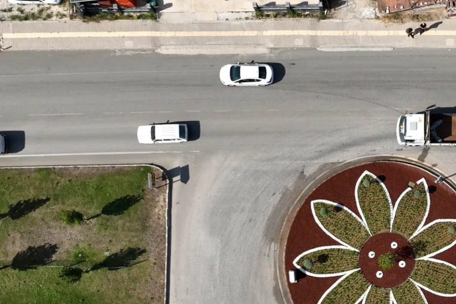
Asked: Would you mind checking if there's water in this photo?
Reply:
No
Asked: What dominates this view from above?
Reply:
paved ground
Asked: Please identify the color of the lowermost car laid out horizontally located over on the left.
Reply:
white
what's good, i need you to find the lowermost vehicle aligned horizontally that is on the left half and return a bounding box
[138,121,189,144]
